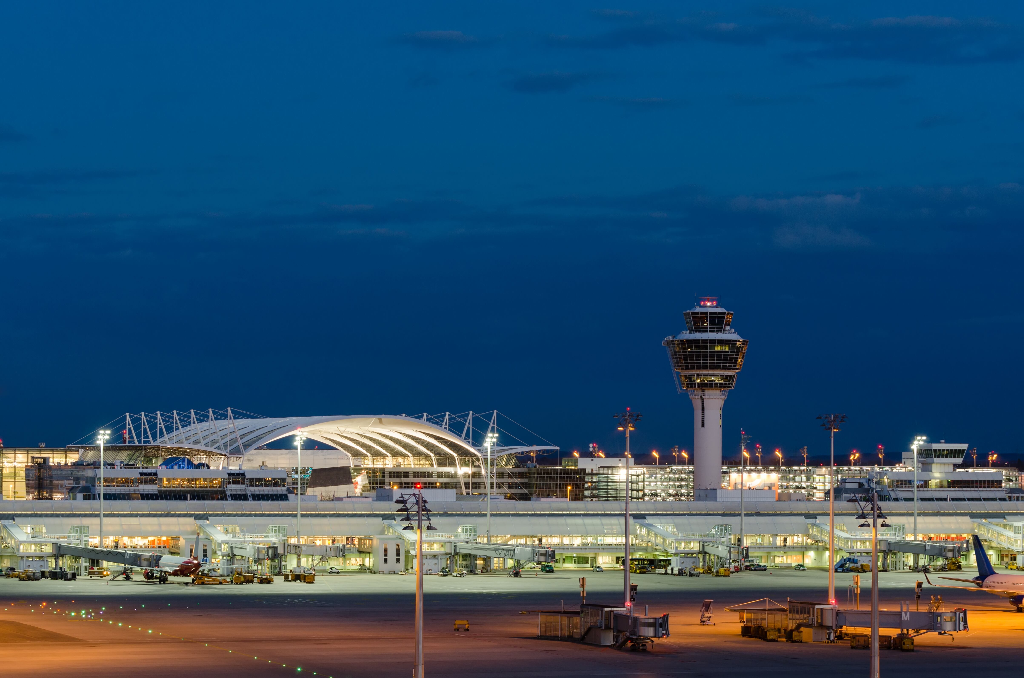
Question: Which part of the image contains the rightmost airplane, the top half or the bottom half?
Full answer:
The bottom half of the photo is where the rightmost airplane is.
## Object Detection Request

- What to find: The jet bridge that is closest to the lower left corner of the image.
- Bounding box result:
[79,547,162,578]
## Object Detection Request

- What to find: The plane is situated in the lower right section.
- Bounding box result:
[942,534,1024,598]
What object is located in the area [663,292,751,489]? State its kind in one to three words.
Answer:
building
